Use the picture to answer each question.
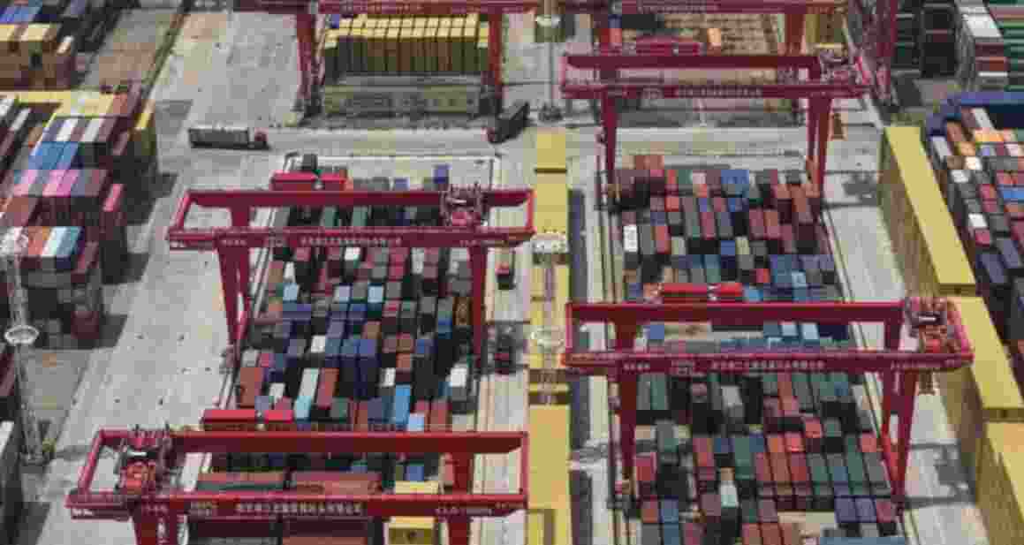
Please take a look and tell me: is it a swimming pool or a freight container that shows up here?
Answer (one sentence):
This aerial view contains a freight container.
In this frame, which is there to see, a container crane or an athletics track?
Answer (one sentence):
The image shows a container crane.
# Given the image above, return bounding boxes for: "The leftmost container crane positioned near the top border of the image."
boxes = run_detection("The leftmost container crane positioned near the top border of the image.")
[256,0,538,114]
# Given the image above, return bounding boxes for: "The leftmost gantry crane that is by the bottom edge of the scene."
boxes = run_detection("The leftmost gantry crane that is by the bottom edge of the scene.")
[62,404,528,545]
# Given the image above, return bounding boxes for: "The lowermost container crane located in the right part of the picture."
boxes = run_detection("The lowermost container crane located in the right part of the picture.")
[562,277,974,513]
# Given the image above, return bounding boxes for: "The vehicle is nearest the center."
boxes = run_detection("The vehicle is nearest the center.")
[499,254,514,288]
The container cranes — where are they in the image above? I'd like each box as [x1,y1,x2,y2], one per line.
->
[167,162,534,371]
[562,277,974,513]
[858,0,1024,104]
[62,404,528,545]
[560,35,875,214]
[256,0,538,114]
[560,0,841,112]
